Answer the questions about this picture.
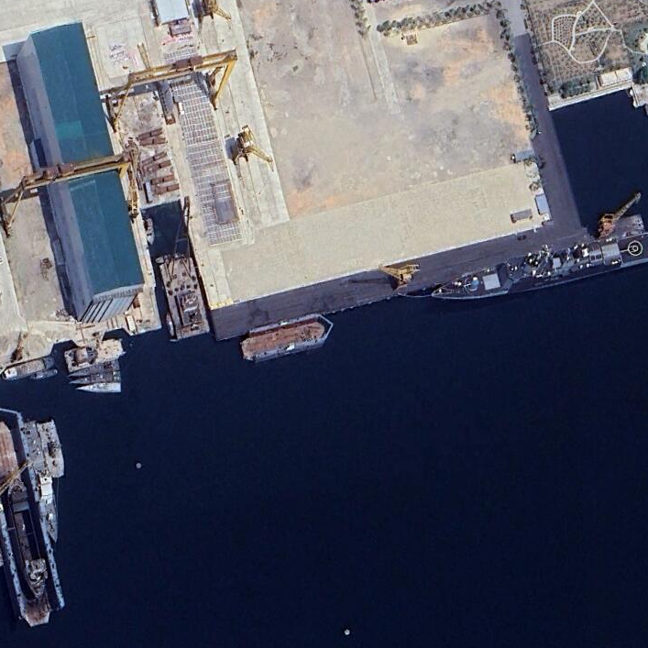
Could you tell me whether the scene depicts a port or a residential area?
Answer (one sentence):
What you see here is a port.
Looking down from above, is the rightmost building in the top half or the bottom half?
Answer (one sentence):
The top half of the photo is where the rightmost building is.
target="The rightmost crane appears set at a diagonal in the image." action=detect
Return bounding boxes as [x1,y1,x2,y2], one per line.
[591,193,641,246]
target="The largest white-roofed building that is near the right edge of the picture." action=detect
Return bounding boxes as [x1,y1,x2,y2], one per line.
[598,67,633,87]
